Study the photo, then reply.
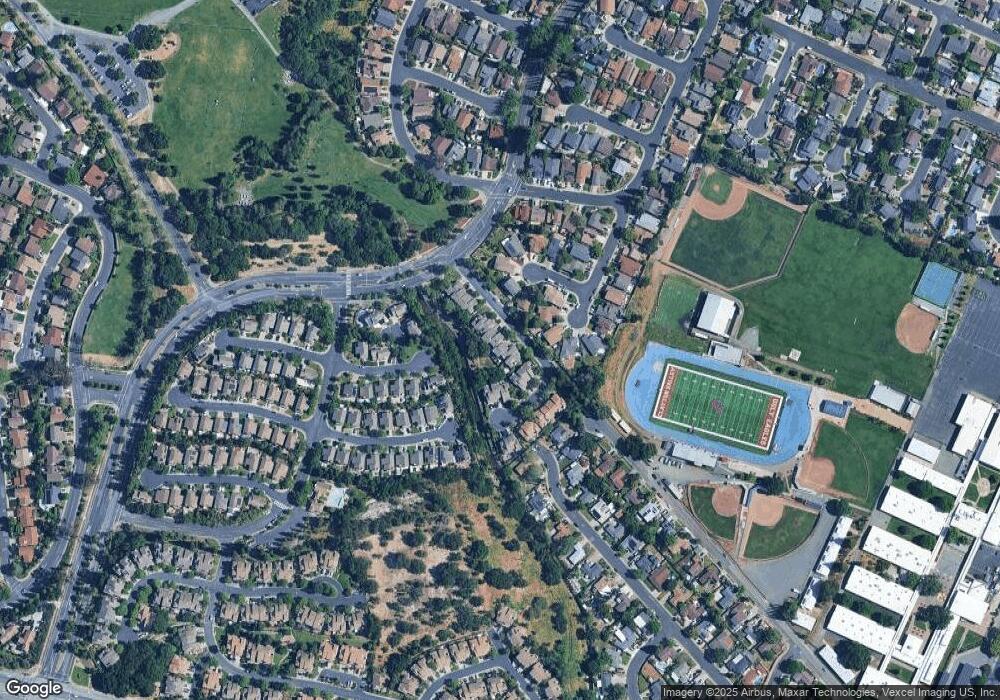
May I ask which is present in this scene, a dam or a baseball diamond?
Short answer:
baseball diamond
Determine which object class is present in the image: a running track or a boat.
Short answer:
running track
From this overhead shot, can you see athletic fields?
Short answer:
Yes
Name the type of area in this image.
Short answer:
residential area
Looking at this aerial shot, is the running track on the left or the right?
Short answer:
right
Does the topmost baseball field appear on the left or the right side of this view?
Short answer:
right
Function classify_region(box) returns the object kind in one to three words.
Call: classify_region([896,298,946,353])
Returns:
baseball field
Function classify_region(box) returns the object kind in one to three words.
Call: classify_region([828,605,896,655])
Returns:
building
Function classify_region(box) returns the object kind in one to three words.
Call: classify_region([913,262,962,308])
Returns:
sports court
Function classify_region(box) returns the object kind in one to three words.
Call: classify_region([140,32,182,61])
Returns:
playground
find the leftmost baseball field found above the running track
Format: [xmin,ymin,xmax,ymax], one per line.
[658,162,809,292]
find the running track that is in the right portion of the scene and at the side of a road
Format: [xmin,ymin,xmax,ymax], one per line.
[625,341,812,465]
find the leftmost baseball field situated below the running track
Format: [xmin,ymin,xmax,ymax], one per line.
[688,483,744,548]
